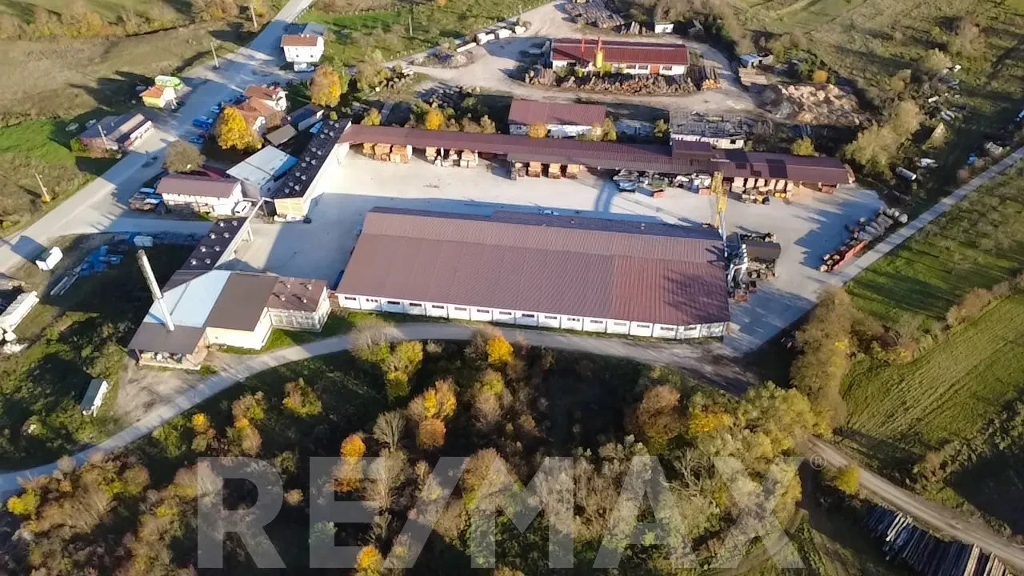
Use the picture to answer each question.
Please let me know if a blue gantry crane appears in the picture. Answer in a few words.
No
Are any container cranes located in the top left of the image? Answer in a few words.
No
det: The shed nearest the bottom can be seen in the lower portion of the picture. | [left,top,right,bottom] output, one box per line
[78,380,108,417]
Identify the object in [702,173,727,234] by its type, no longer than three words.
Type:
container crane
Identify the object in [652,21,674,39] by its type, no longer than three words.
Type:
shed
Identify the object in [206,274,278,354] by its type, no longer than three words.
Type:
building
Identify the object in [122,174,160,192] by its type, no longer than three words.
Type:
vehicle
